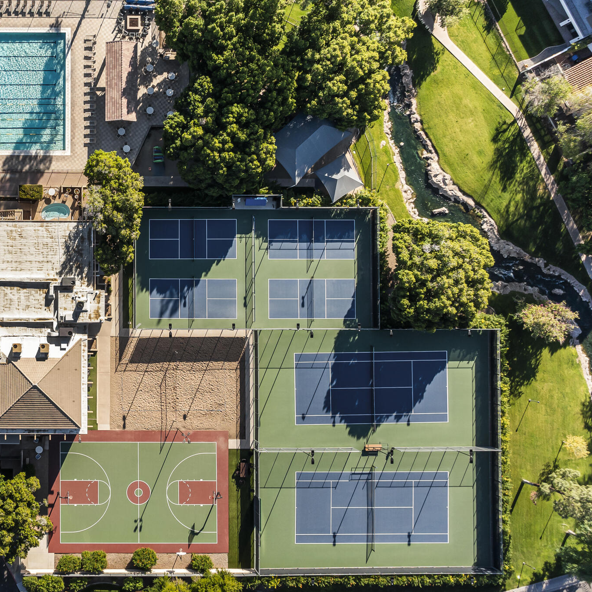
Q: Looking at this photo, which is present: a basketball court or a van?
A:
basketball court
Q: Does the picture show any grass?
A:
Yes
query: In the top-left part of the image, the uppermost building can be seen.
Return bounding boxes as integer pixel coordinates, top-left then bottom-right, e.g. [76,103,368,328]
[106,39,138,123]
